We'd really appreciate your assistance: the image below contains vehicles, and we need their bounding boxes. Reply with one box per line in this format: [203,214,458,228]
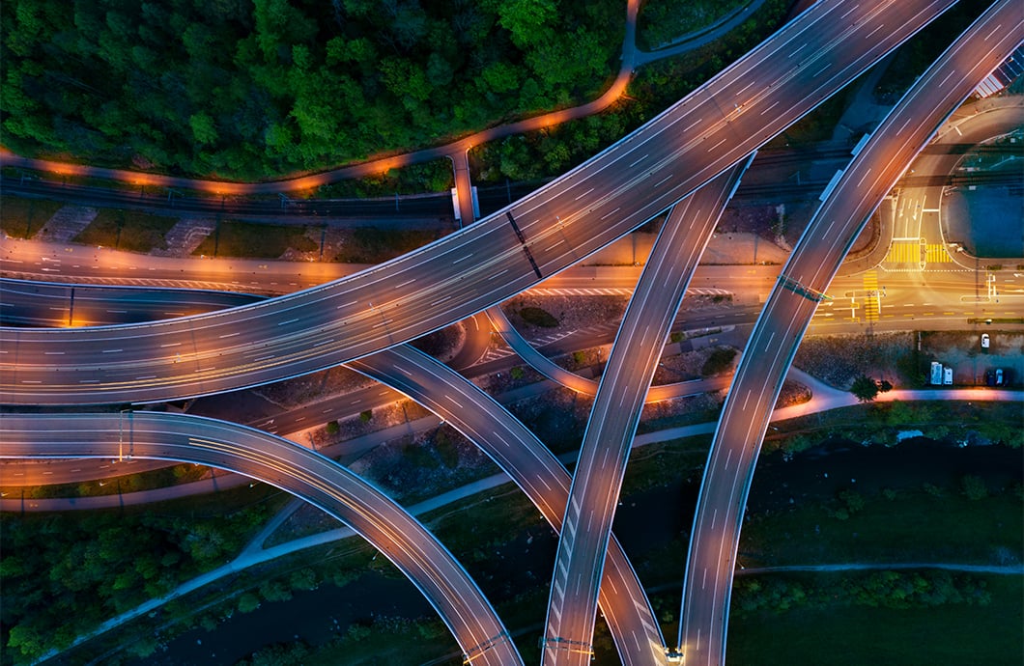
[980,333,990,347]
[944,367,955,384]
[1003,370,1012,385]
[929,361,945,384]
[994,369,1003,384]
[986,370,995,385]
